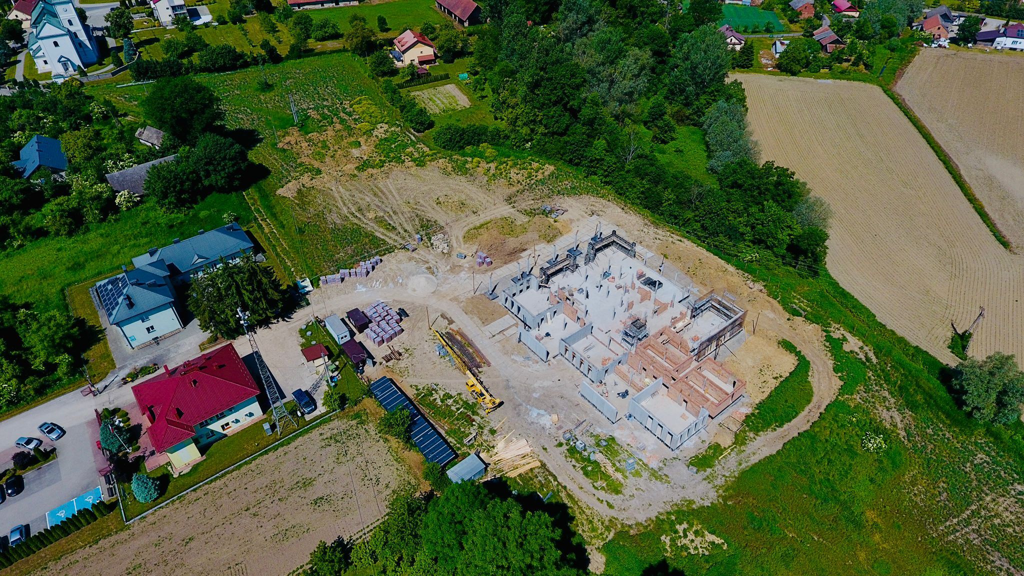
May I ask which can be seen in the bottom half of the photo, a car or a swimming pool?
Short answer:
car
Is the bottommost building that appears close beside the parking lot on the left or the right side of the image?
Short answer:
left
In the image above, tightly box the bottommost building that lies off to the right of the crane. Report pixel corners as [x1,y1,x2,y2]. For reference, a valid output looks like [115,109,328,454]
[482,234,748,452]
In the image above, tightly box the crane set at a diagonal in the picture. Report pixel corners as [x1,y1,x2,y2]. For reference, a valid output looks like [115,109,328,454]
[430,330,508,415]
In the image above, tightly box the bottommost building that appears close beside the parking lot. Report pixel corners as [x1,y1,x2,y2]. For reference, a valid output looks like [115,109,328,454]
[130,341,265,480]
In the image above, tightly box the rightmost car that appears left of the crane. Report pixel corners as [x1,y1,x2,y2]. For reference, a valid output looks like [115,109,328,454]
[289,387,317,415]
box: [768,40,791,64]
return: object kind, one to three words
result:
house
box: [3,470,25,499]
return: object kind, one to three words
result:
car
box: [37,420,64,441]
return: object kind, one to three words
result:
car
